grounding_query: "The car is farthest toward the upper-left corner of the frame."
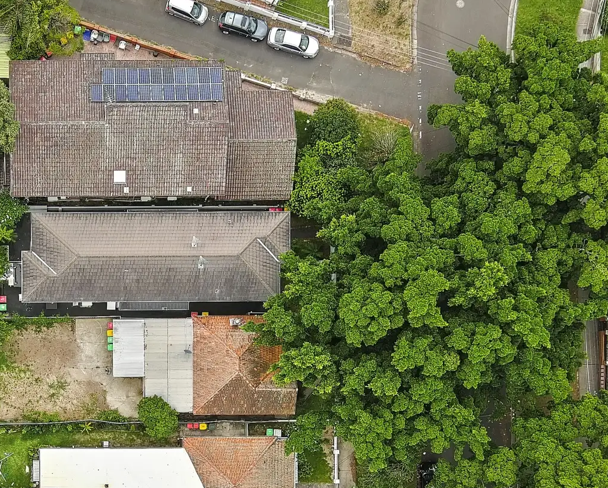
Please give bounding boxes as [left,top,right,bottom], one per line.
[162,0,211,26]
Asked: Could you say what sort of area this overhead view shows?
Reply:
residential area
